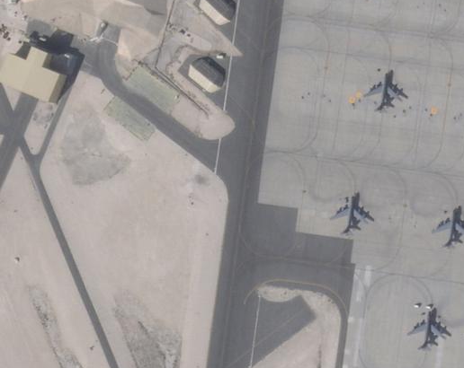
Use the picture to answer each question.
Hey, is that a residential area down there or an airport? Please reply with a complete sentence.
What you see here is an airport.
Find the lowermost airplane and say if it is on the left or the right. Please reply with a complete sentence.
The lowermost airplane sits on the right side.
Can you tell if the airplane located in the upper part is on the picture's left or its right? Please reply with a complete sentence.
The airplane located in the upper part is on the right side of the image.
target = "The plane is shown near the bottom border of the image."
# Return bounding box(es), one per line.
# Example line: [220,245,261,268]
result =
[408,312,445,350]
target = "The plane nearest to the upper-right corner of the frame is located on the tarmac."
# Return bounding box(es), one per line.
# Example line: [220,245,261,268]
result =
[365,74,401,112]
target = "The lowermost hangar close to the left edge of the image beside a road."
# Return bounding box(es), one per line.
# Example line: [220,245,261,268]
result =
[0,47,69,103]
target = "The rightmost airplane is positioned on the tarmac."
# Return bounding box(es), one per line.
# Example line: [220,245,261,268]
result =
[433,210,464,248]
